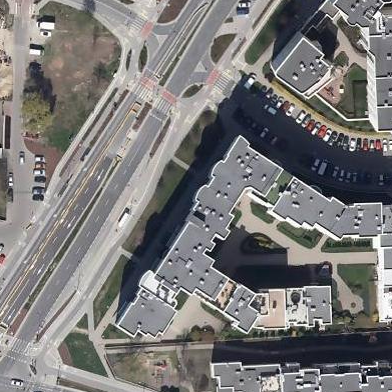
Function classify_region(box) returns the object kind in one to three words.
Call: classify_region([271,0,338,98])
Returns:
building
